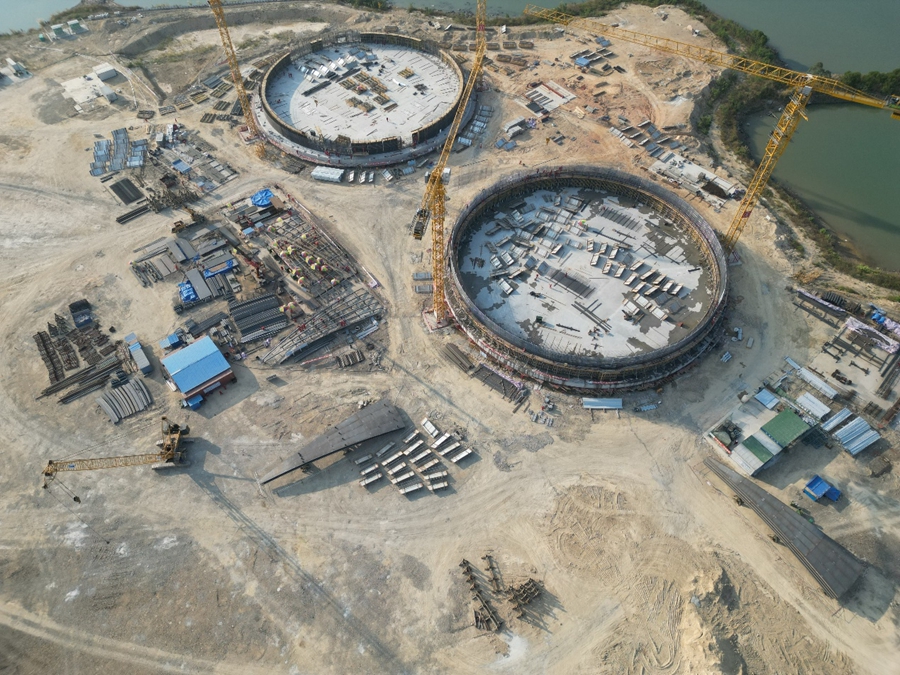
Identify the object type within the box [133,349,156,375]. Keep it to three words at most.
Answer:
shed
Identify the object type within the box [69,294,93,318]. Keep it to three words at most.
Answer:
shed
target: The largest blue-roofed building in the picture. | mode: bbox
[162,337,233,398]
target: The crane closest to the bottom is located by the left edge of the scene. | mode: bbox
[43,417,195,532]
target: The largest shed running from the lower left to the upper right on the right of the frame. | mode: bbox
[726,410,811,480]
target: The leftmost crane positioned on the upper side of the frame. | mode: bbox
[166,201,204,235]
